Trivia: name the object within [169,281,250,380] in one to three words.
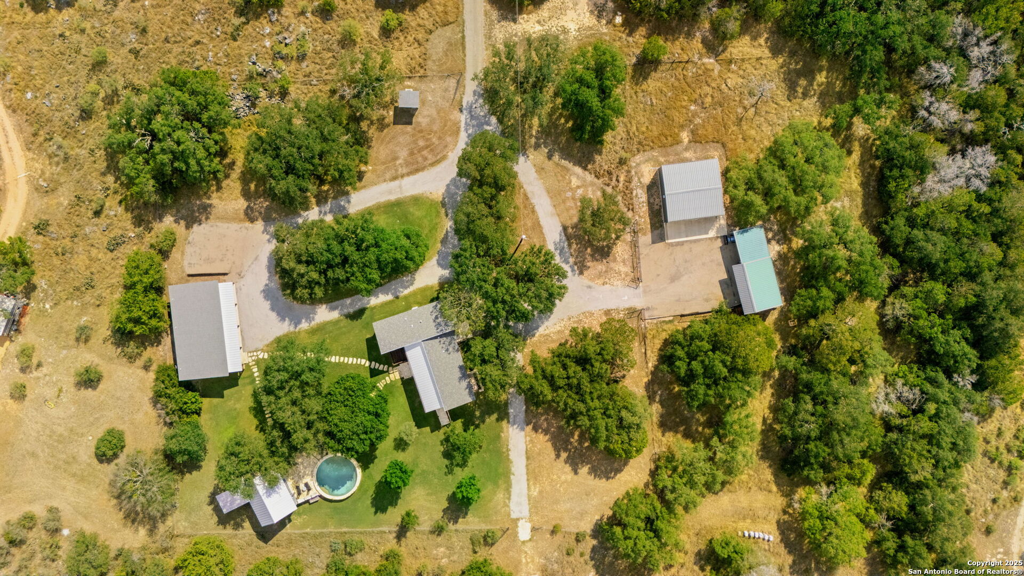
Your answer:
barn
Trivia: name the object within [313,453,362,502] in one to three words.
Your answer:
swimming pool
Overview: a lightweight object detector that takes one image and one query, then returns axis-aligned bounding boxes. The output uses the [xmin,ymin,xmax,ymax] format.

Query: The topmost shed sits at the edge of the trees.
[399,86,421,112]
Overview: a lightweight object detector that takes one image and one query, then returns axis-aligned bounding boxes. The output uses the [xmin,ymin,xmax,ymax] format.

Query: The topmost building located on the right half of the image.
[658,158,725,224]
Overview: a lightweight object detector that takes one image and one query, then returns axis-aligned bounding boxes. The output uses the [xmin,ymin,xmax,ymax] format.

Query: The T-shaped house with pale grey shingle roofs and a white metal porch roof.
[372,299,475,413]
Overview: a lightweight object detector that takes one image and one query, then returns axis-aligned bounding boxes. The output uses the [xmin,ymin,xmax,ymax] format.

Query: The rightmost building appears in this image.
[728,225,783,314]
